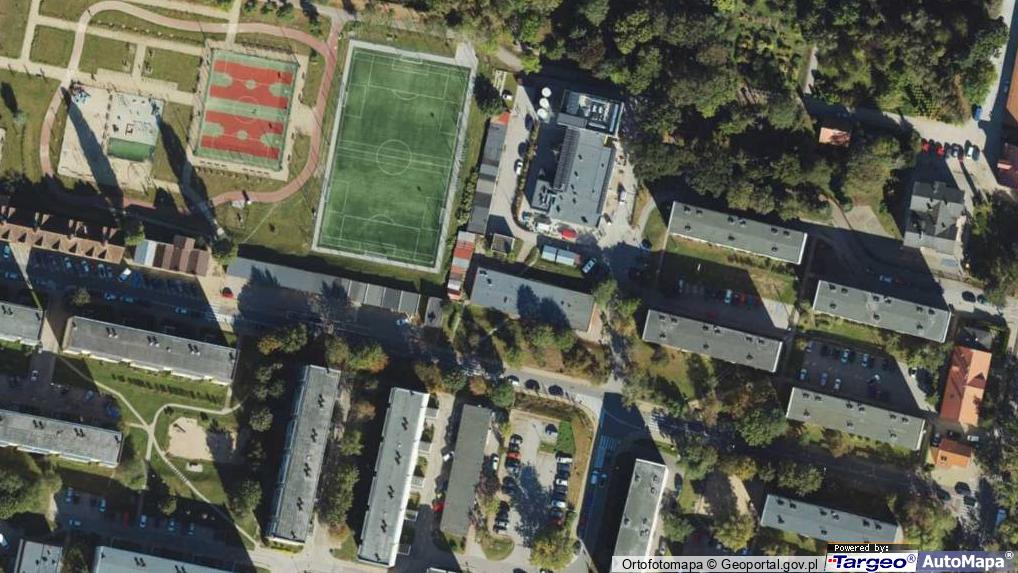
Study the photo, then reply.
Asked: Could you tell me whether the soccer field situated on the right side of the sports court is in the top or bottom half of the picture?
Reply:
top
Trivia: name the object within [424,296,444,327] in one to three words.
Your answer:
shed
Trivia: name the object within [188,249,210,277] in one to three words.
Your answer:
building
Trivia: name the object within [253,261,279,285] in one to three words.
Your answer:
building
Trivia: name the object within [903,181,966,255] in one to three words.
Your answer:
house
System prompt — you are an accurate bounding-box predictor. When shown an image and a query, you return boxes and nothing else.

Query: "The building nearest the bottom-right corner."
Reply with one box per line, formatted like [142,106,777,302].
[936,439,974,472]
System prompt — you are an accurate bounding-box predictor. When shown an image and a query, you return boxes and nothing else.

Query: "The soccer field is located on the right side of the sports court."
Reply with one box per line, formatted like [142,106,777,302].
[312,40,474,272]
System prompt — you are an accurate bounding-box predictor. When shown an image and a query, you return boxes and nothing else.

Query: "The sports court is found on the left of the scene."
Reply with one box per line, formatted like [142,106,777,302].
[188,40,313,181]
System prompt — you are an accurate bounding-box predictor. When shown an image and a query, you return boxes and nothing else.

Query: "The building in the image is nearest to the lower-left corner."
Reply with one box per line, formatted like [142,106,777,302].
[16,540,68,573]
